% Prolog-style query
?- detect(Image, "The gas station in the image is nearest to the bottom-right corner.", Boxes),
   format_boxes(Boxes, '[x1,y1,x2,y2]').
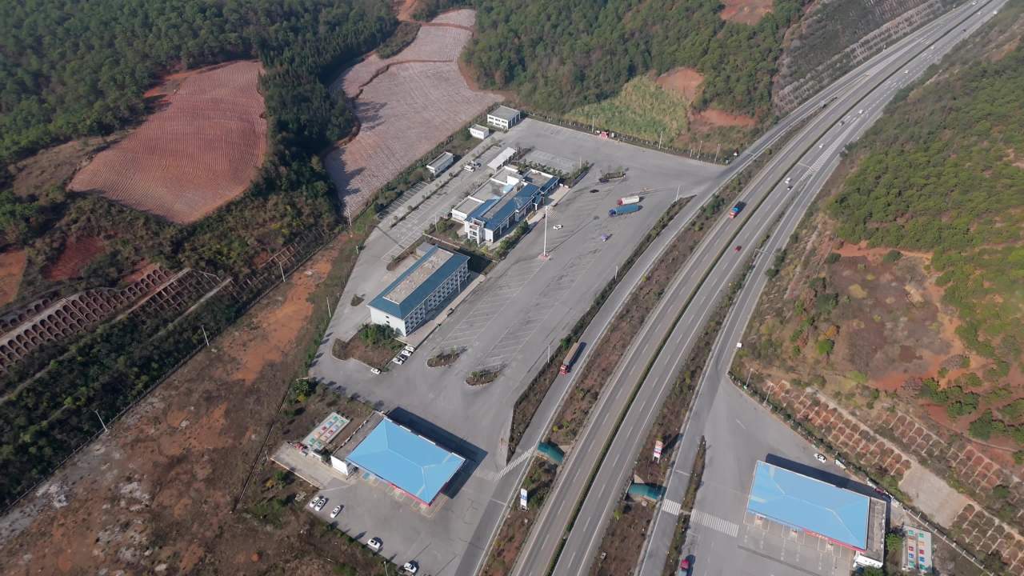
[748,461,887,576]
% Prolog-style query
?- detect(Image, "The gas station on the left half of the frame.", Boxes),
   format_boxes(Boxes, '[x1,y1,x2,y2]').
[330,412,468,507]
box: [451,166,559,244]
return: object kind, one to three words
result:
building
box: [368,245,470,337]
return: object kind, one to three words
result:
building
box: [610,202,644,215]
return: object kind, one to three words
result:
vehicle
